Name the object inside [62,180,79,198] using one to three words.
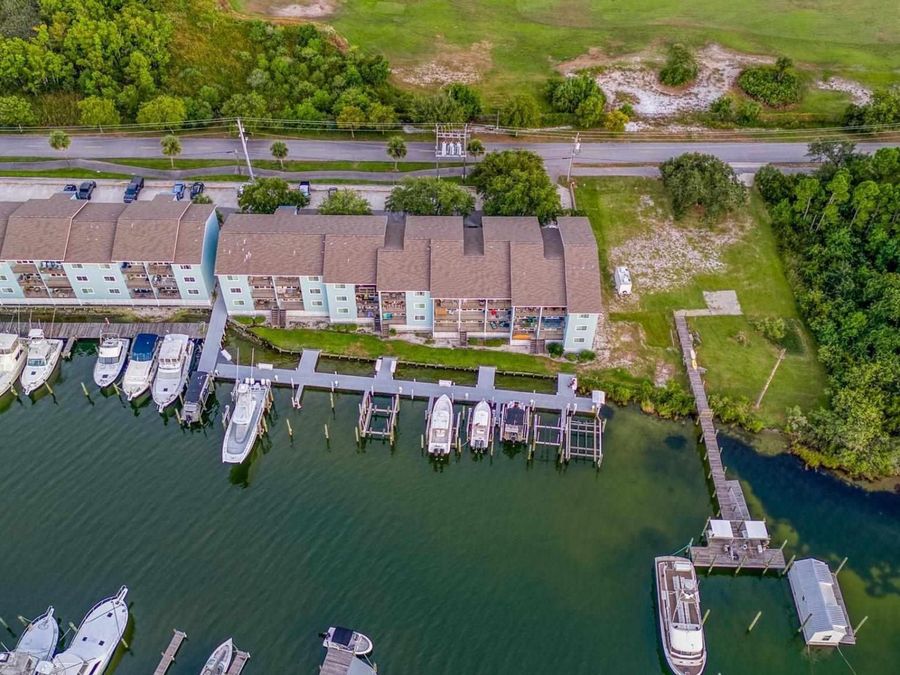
car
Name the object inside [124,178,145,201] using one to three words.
truck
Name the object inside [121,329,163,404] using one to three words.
boat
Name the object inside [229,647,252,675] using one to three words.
pier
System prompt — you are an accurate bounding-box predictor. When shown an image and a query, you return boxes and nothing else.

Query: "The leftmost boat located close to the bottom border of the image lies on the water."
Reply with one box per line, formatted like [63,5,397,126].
[1,606,56,675]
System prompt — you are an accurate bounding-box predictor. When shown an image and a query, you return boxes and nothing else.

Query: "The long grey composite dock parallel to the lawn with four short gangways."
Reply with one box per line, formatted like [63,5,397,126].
[214,350,597,419]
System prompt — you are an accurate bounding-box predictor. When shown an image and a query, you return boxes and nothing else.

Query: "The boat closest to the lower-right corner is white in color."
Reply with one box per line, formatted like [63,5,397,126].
[650,559,707,675]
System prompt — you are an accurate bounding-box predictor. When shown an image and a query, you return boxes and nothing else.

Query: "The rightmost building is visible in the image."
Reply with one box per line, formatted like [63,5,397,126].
[786,565,858,655]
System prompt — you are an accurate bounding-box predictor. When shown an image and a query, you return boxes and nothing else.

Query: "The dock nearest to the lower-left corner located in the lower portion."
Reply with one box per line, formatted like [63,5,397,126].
[153,626,188,675]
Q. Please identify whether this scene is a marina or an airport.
marina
